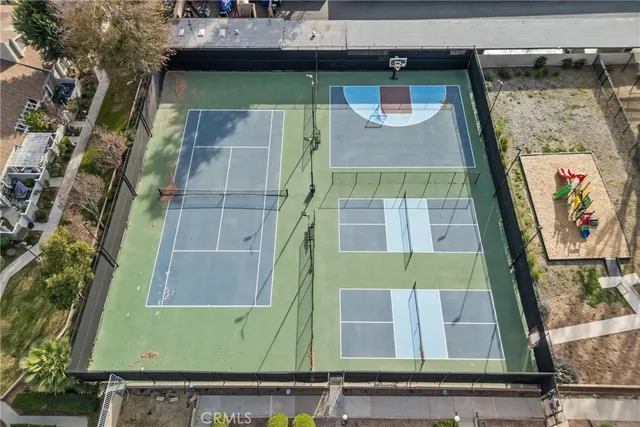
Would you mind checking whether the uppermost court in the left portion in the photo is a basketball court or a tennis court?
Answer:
tennis court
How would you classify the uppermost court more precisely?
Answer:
basketball court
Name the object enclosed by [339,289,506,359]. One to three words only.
sports court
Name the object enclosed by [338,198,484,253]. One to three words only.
sports court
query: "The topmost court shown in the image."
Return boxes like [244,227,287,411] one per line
[329,85,476,168]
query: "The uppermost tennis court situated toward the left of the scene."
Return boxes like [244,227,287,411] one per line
[146,109,284,307]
